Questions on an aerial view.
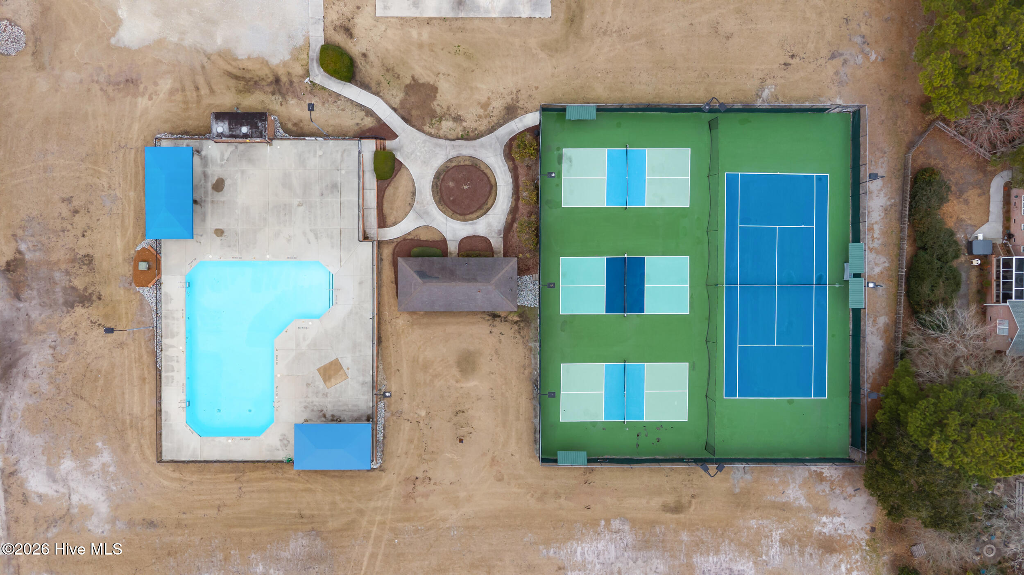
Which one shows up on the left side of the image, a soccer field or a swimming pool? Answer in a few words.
swimming pool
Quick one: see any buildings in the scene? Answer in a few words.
Yes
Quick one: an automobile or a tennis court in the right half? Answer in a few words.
tennis court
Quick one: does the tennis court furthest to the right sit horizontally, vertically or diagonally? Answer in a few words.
vertically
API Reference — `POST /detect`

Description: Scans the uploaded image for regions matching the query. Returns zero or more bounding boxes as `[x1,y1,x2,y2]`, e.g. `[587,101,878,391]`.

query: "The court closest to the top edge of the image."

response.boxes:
[562,148,691,207]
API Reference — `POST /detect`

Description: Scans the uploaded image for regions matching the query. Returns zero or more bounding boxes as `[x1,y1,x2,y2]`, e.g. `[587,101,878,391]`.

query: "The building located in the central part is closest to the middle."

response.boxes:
[397,257,518,312]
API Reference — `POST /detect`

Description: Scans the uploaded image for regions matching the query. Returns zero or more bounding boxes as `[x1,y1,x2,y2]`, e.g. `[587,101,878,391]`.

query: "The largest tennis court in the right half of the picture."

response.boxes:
[724,172,829,400]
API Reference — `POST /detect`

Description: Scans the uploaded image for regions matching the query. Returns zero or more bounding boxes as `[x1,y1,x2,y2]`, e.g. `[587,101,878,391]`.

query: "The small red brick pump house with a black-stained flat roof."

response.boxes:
[211,107,277,143]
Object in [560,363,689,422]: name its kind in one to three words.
sports court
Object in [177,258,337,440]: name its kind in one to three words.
swimming pool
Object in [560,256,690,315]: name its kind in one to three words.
sports court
